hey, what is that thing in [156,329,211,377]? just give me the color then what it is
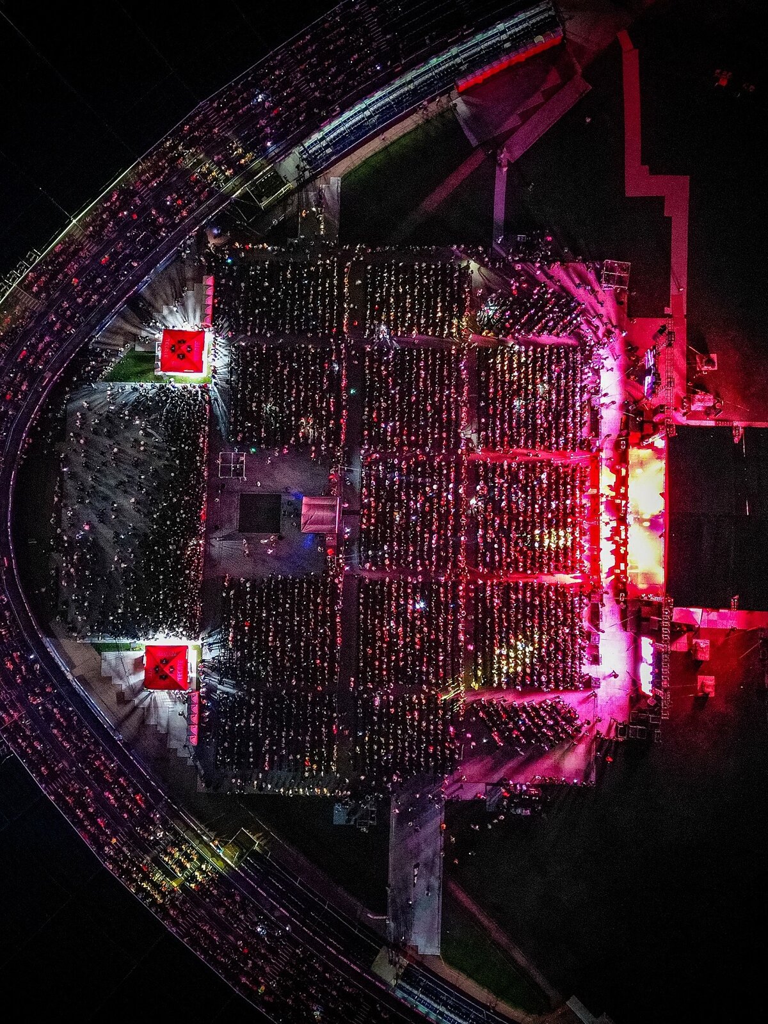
red tent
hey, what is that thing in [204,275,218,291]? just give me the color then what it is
pink gazebo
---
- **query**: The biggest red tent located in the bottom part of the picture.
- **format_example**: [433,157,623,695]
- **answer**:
[145,641,196,690]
